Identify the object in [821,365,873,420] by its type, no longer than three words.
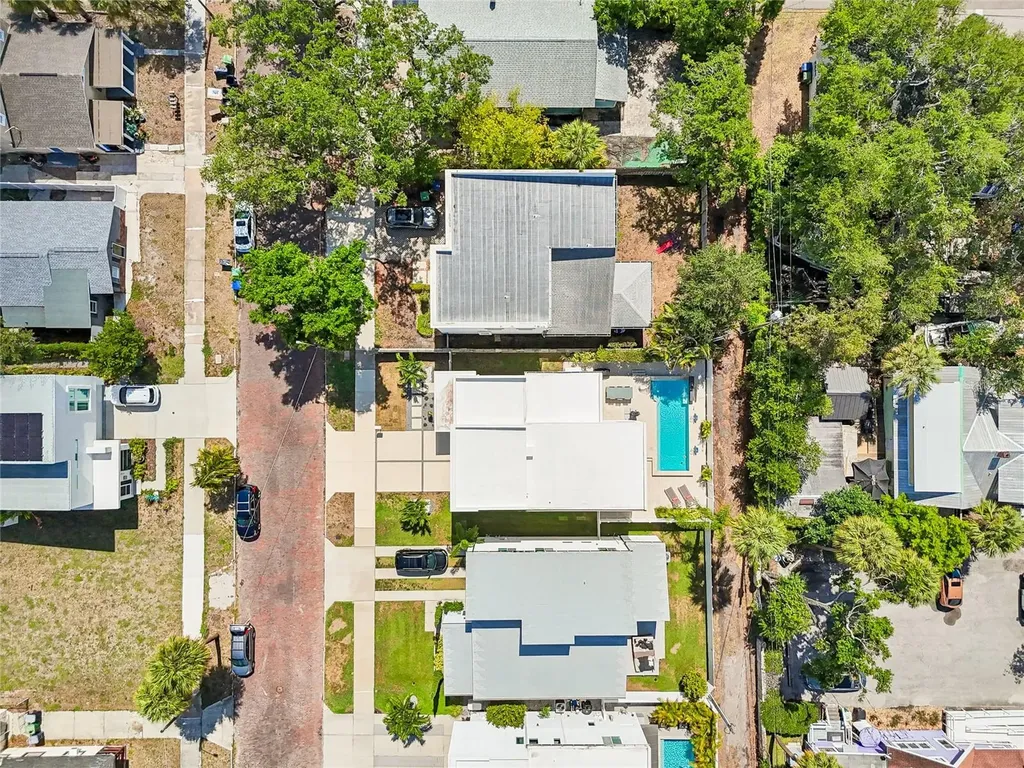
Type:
shed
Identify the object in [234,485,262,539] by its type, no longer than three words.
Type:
car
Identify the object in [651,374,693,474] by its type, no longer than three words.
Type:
swimming pool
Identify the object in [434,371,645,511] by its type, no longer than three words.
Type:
house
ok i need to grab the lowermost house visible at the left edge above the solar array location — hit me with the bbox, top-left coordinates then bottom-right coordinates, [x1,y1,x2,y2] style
[0,201,128,328]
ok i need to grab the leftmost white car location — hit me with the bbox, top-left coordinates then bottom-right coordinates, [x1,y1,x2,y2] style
[116,384,168,410]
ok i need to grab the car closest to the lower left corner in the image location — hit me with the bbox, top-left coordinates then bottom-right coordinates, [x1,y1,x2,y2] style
[229,623,257,676]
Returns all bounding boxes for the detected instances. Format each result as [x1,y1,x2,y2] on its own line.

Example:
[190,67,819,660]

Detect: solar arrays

[0,413,42,460]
